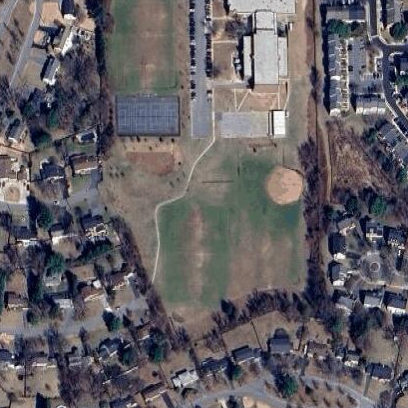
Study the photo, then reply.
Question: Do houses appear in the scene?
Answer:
Yes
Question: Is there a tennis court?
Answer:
Yes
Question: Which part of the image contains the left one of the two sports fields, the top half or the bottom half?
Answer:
top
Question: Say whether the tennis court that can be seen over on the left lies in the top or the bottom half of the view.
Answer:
top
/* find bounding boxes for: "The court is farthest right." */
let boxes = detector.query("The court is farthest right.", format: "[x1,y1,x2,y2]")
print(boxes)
[221,111,269,139]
